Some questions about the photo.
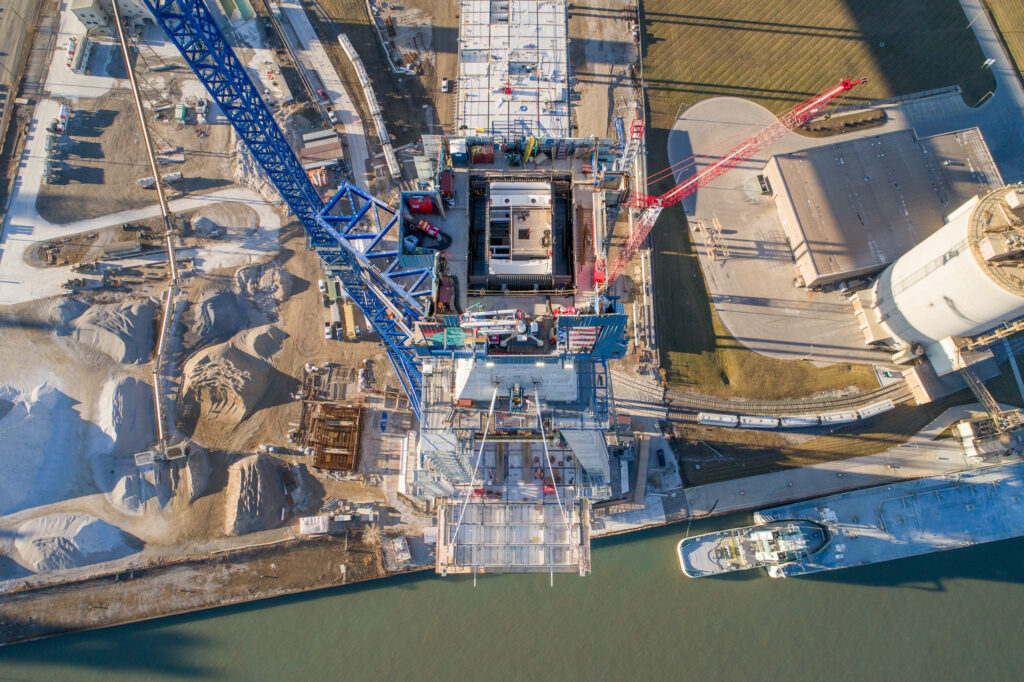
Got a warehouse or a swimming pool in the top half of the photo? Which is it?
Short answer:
warehouse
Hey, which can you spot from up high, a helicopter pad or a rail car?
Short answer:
rail car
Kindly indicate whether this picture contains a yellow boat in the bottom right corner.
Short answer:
No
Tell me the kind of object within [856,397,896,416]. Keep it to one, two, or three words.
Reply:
rail car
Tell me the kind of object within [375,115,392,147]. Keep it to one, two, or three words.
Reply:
rail car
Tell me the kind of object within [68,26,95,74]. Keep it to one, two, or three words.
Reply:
building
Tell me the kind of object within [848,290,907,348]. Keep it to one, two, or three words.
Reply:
house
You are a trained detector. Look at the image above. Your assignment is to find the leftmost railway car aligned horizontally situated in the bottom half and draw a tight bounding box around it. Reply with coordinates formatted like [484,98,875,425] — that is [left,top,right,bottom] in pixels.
[695,412,738,426]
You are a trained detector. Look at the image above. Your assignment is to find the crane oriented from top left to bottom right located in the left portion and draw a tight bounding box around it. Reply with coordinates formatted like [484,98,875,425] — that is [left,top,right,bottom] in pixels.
[136,0,433,418]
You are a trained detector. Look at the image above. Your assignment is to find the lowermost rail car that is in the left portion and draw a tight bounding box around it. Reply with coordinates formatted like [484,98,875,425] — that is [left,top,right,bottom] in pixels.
[386,145,403,180]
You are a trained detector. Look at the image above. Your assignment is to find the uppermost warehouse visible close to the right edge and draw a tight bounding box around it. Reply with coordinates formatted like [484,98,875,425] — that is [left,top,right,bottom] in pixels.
[764,126,1002,285]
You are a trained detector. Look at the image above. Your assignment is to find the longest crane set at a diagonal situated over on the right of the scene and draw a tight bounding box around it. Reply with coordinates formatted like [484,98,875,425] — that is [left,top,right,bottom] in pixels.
[600,74,870,312]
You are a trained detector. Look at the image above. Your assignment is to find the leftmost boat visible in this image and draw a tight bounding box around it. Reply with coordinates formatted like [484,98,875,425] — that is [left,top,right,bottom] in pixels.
[676,524,822,578]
